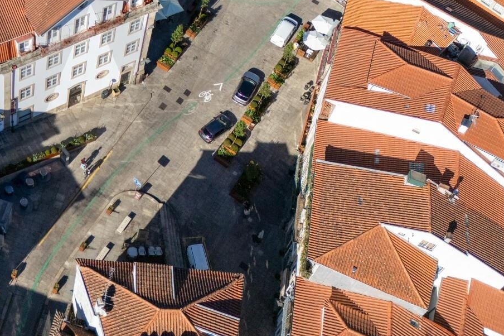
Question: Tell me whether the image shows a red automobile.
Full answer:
No, this view has no red automobile in it.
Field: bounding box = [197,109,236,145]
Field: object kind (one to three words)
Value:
car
